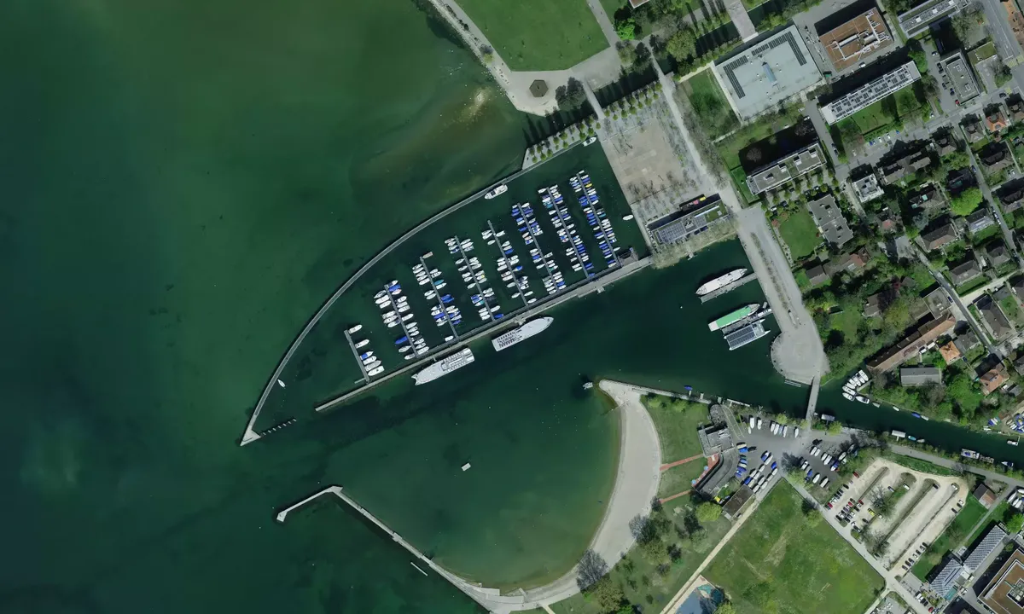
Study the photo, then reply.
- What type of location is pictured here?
port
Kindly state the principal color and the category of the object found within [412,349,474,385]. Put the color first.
white ship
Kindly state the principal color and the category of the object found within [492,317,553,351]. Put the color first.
white ship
